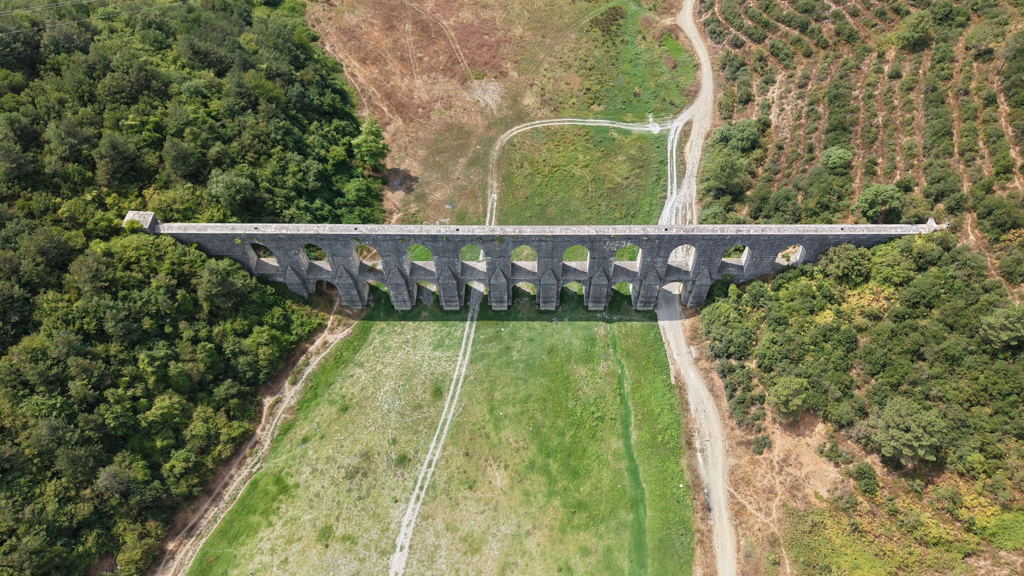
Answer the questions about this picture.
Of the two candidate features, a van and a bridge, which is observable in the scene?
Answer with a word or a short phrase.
bridge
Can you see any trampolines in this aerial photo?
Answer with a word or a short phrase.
No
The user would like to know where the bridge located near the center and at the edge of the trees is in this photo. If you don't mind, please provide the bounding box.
[158,224,927,310]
